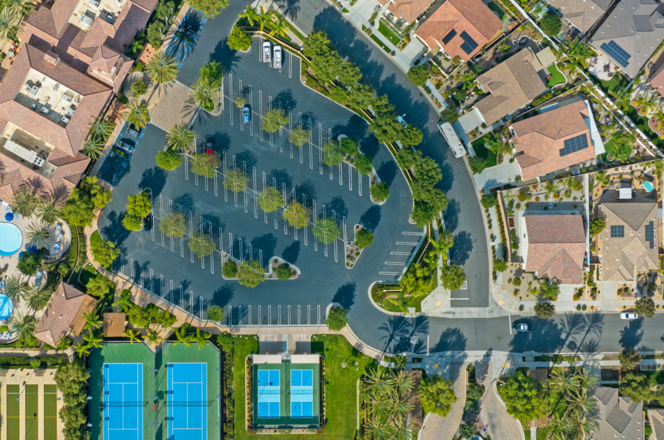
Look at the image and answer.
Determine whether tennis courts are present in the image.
Yes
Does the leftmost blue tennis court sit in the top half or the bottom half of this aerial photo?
bottom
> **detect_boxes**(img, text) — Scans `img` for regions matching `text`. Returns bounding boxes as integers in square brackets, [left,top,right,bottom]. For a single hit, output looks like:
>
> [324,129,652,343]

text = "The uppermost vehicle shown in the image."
[180,23,198,35]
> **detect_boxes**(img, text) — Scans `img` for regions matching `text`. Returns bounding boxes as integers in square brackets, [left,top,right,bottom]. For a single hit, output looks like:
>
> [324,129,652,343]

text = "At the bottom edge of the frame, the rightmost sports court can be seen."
[285,356,320,427]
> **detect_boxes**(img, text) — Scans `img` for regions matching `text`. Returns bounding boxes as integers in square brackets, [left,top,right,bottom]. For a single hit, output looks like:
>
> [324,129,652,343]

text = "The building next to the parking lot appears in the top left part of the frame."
[0,0,155,205]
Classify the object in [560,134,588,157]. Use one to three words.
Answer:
solar panel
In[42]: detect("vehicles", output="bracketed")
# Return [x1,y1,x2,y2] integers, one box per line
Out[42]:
[242,105,250,123]
[512,323,531,332]
[180,23,198,35]
[144,214,153,231]
[117,139,134,152]
[620,312,637,320]
[263,42,271,63]
[436,121,470,159]
[123,124,141,137]
[273,45,281,66]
